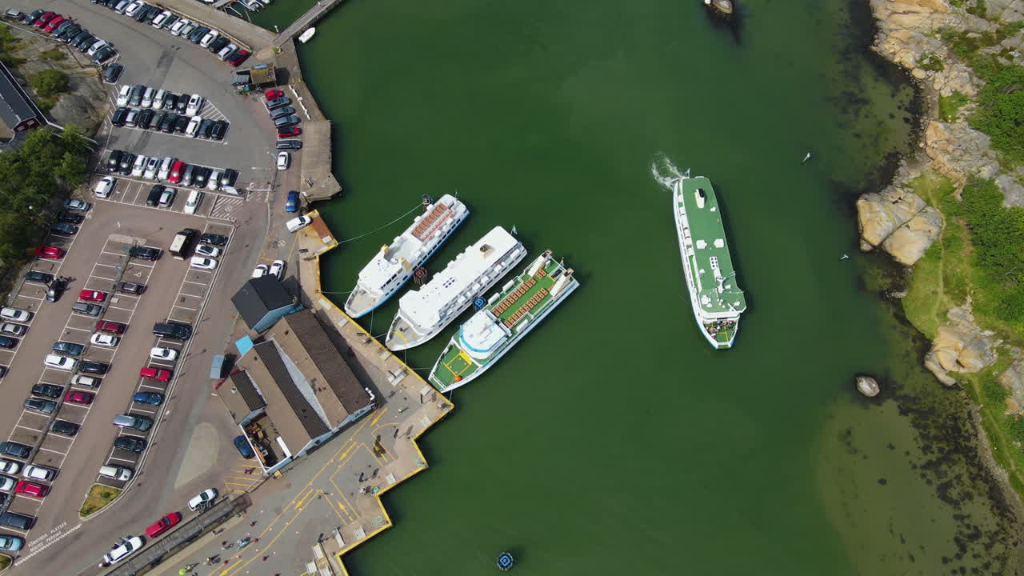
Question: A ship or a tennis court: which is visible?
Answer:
ship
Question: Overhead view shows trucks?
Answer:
Yes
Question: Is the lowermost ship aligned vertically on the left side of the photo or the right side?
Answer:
right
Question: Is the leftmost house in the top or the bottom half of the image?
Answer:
top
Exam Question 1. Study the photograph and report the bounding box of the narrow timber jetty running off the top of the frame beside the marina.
[272,0,341,49]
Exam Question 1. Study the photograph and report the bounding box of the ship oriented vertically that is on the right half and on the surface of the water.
[670,168,748,348]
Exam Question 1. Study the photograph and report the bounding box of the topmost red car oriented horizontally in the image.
[263,88,287,102]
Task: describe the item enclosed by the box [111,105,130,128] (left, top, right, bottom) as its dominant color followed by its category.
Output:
black car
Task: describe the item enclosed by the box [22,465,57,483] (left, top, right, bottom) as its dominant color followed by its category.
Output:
white car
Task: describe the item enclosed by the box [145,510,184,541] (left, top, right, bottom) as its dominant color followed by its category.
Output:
red vehicle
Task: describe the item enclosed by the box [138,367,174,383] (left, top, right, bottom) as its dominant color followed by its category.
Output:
red vehicle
